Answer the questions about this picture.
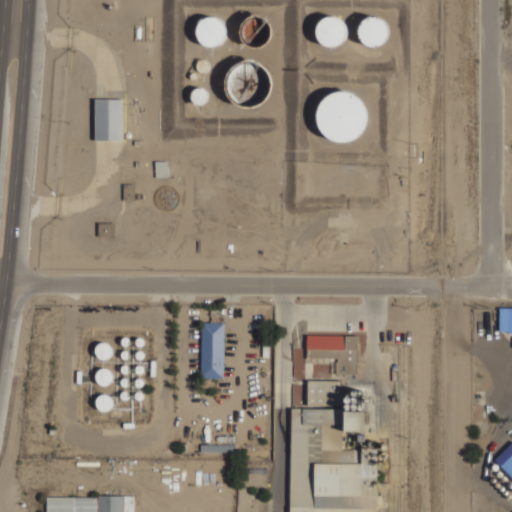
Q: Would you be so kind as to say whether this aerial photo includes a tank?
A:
Yes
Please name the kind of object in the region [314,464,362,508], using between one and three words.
building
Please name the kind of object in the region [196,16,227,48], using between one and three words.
storage tank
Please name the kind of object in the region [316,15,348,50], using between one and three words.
storage tank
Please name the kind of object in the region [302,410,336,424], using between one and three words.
shed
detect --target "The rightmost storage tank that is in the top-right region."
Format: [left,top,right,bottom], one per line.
[358,16,390,49]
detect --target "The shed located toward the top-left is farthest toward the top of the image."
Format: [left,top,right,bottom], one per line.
[94,98,124,141]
